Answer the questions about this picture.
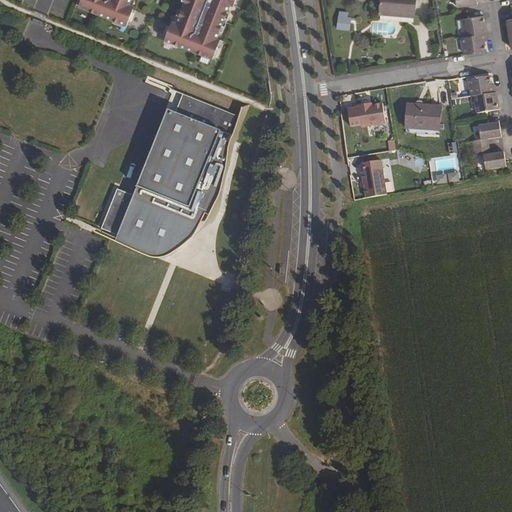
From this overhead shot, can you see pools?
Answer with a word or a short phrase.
Yes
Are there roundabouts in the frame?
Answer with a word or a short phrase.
Yes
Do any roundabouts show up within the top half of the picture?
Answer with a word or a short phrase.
No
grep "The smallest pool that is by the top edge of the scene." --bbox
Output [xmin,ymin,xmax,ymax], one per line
[372,22,396,34]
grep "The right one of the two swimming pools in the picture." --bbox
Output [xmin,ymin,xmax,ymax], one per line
[430,152,460,184]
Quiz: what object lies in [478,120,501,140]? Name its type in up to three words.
house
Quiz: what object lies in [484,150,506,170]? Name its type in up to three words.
house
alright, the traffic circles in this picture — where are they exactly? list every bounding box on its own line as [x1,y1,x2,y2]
[223,360,296,432]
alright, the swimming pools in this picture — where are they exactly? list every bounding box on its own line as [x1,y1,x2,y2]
[372,22,396,34]
[430,152,460,184]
